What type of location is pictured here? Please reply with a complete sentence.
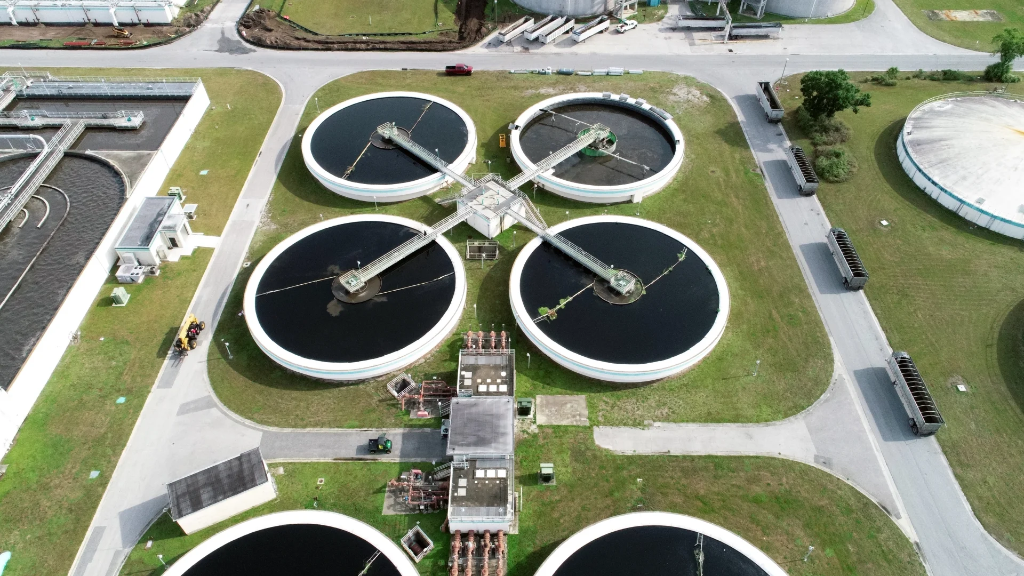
The picture captures an industrial area.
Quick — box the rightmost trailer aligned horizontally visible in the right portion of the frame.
[728,23,782,42]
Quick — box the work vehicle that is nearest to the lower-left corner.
[171,312,203,360]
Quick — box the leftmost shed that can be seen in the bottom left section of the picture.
[165,443,276,534]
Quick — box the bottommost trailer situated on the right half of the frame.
[884,353,946,436]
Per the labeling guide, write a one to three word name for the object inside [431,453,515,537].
building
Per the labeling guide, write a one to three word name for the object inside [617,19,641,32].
vehicle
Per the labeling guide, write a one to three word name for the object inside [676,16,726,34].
trailer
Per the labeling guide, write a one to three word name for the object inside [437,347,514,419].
building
